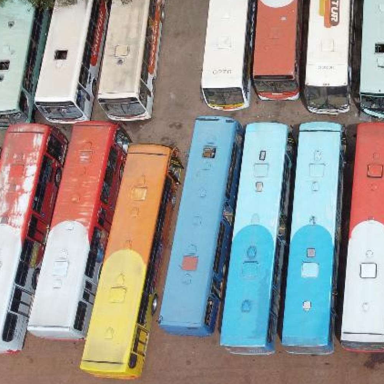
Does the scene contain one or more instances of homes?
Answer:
No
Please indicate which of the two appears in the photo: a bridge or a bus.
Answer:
bus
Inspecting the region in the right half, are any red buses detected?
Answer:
Yes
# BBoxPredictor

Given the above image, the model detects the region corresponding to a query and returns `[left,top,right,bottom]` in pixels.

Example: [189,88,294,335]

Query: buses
[341,124,384,353]
[35,0,112,124]
[29,123,129,341]
[252,0,303,99]
[220,124,294,357]
[159,119,245,339]
[202,0,257,111]
[283,124,348,356]
[99,0,166,119]
[357,0,384,119]
[304,0,353,109]
[0,126,67,355]
[83,145,183,382]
